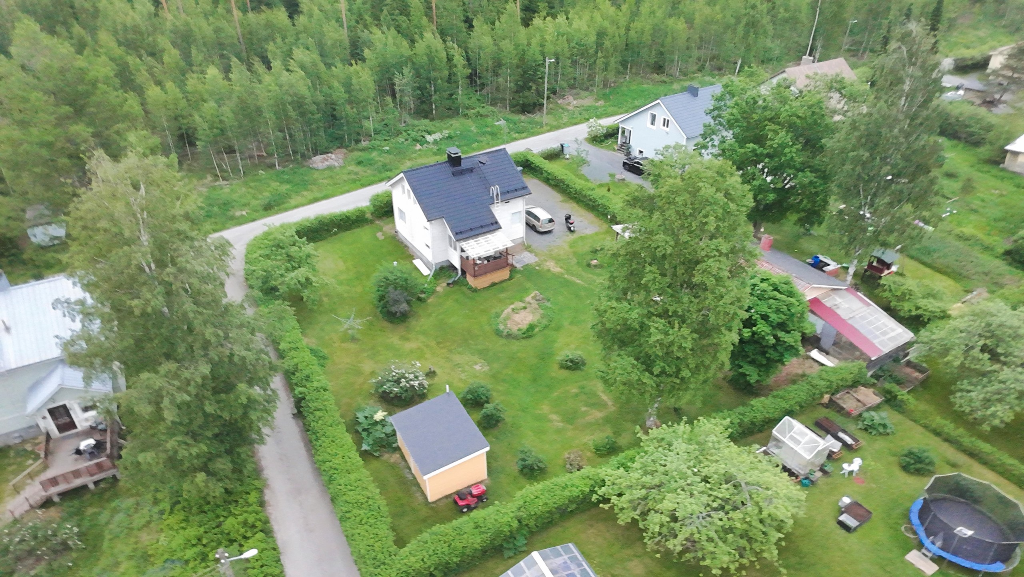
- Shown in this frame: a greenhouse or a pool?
greenhouse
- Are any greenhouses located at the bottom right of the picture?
Yes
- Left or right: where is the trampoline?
right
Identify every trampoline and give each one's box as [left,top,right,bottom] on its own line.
[911,479,1024,577]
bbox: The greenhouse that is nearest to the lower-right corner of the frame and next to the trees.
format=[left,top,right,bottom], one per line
[768,421,836,484]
